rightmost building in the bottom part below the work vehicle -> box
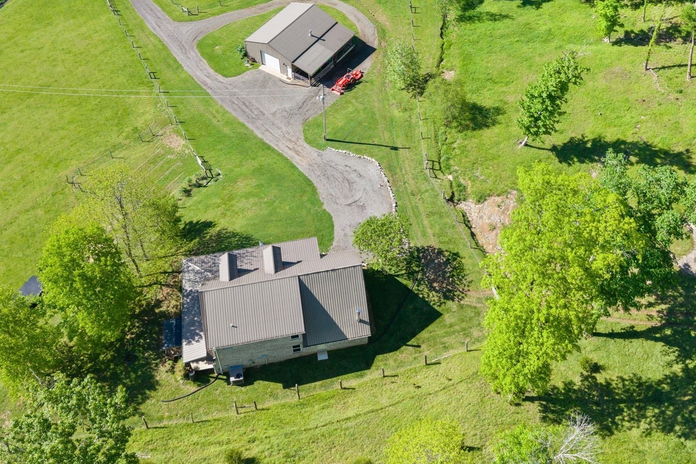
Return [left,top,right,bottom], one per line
[182,235,371,374]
